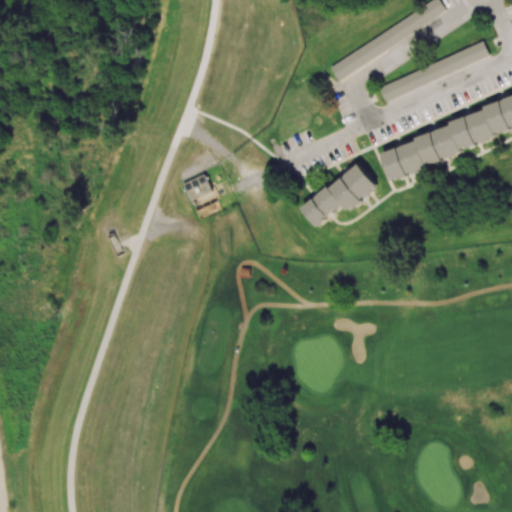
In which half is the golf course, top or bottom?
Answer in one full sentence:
It is in the bottom half that the golf course appears.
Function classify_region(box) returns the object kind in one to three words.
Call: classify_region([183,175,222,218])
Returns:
building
